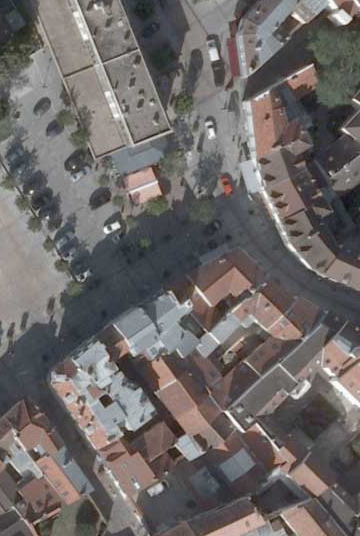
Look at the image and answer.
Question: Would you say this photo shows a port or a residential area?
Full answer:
What you see here is a residential area.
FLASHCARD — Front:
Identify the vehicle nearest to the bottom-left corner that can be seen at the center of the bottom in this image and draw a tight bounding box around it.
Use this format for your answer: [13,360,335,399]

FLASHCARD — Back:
[142,482,165,500]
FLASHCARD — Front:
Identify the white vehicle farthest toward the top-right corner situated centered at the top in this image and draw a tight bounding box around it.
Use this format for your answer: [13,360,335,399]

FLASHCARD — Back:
[206,38,219,61]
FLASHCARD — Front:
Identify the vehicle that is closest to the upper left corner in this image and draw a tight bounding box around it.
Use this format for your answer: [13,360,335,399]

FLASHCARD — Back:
[33,100,49,116]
